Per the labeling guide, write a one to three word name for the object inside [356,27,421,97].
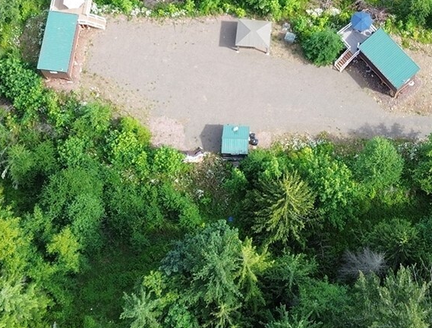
building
